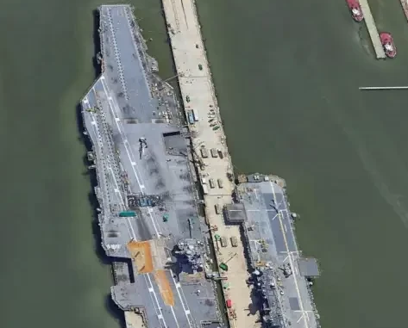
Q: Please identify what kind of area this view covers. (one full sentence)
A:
What you see here is a port.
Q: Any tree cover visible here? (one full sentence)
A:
No, the picture contains no tree cover.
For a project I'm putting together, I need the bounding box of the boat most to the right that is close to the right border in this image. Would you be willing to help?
[379,31,397,58]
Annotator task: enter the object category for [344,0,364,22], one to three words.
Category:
boat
